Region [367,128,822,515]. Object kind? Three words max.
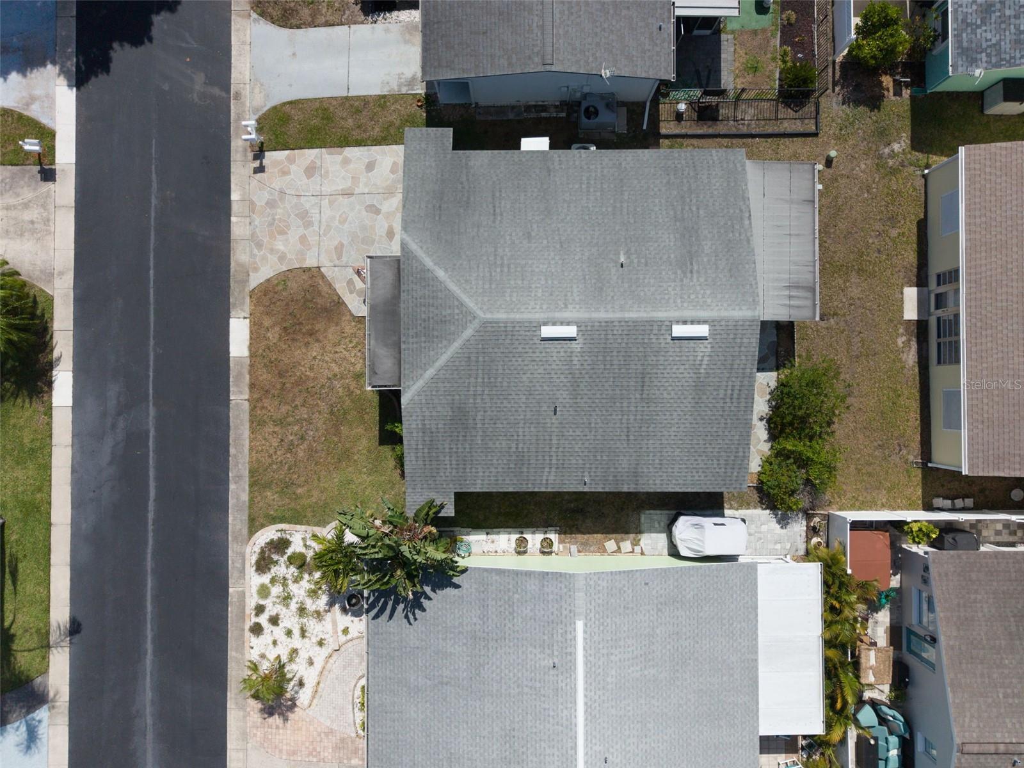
house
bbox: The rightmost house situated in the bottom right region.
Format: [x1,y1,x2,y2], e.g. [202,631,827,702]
[900,542,1024,768]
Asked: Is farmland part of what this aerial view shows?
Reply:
No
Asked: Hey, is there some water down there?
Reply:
No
